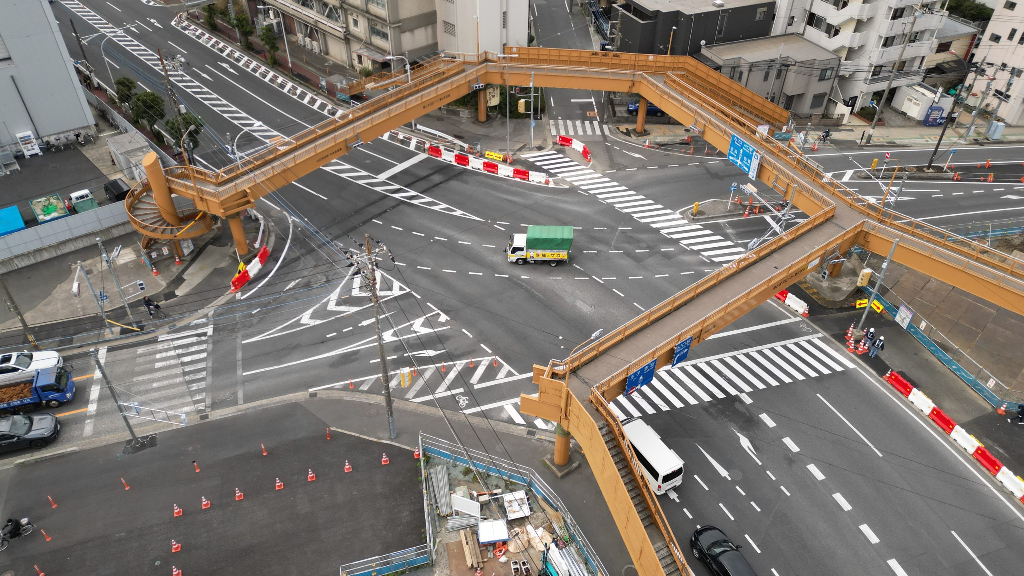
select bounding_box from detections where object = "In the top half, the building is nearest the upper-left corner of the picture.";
[0,0,97,157]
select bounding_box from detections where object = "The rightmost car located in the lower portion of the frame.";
[693,527,765,576]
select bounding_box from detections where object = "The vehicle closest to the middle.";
[508,227,575,265]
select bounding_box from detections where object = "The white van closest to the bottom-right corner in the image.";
[618,412,688,492]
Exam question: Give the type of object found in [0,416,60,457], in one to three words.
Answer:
car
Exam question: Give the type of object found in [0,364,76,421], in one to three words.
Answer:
truck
